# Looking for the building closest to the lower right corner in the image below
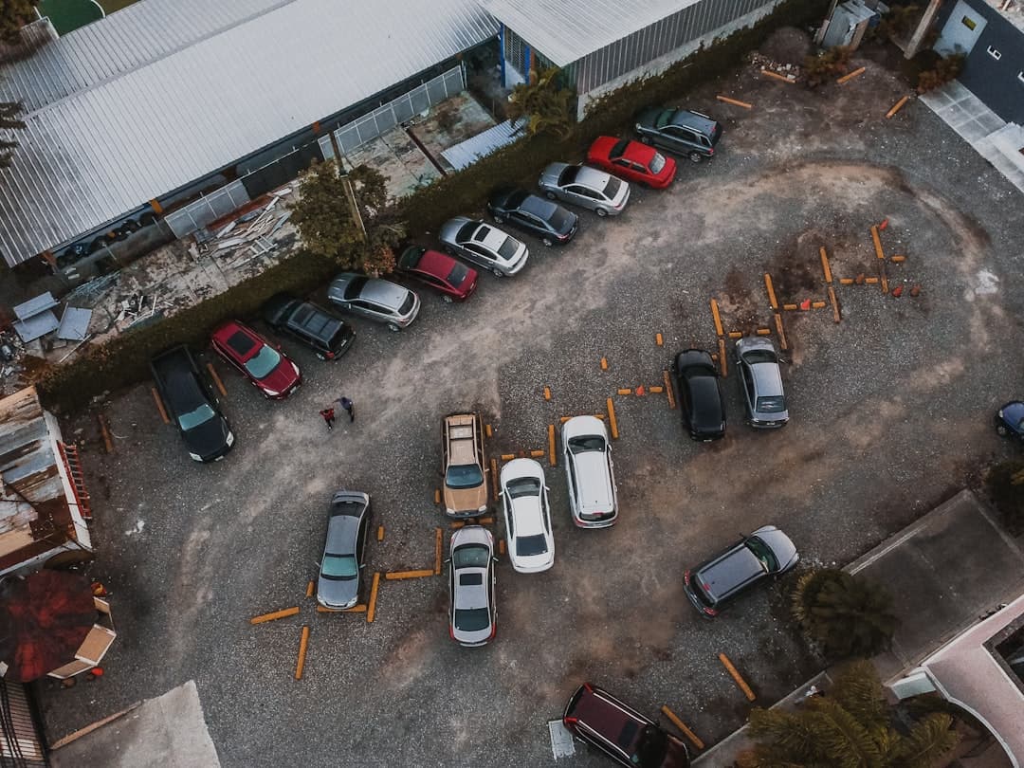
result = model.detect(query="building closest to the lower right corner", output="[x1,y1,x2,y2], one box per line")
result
[909,589,1024,768]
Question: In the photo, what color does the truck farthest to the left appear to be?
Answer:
black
